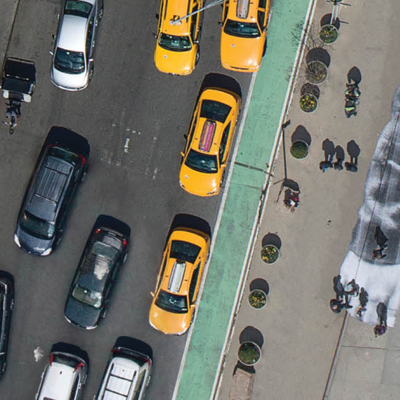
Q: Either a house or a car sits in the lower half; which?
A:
car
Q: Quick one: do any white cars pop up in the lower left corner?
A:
Yes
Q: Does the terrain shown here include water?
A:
No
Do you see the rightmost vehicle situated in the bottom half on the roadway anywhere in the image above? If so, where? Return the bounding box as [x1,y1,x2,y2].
[146,226,211,337]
